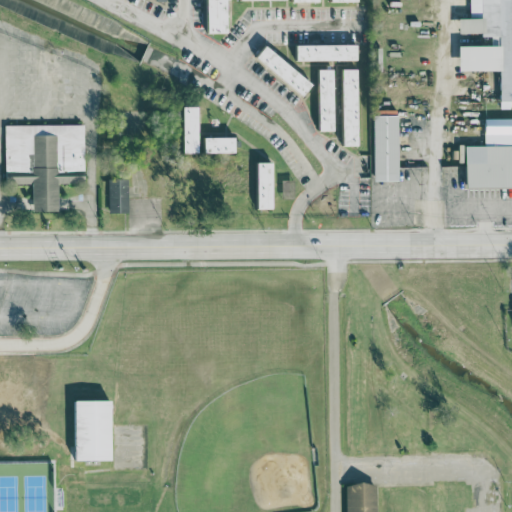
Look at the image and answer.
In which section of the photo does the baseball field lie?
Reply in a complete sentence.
The baseball field appears toward the bottom of the photo.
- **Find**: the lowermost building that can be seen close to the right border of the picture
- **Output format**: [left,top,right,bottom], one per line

[468,146,512,188]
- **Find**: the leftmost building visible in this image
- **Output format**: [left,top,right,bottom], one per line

[5,124,86,212]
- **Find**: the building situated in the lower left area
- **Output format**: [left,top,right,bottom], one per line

[74,402,112,463]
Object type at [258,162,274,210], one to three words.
building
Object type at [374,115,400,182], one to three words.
building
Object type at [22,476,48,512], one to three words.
tennis court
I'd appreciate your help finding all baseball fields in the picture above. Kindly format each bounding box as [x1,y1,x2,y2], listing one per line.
[176,374,315,512]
